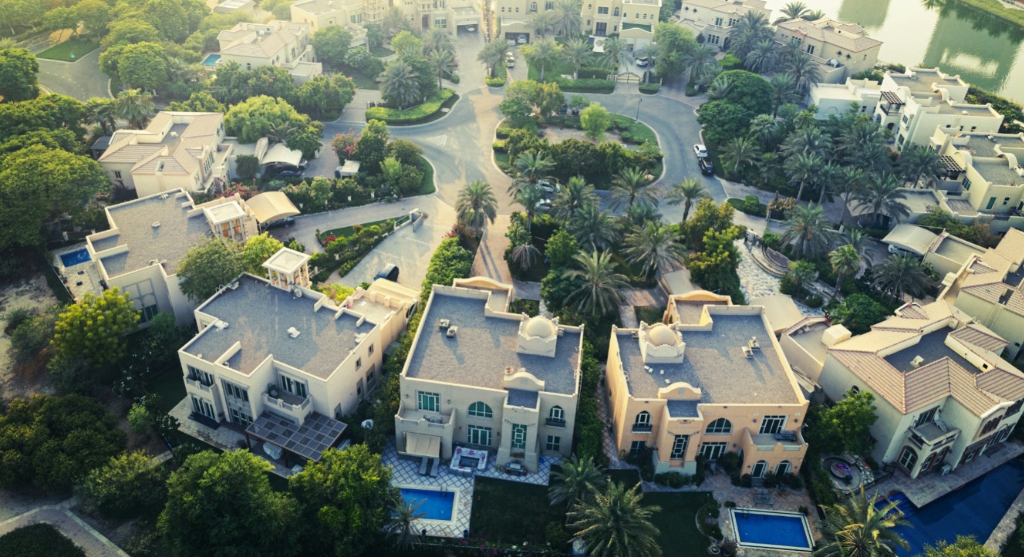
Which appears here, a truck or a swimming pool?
swimming pool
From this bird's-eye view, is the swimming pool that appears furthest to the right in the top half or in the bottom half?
bottom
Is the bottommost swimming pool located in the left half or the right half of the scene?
right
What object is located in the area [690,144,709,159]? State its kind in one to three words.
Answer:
car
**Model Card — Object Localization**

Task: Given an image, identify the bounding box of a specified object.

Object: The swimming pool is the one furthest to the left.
[59,245,94,268]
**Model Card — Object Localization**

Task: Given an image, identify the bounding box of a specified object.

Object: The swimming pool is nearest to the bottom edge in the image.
[725,506,820,556]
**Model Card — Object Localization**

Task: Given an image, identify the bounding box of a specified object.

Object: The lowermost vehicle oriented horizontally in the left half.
[369,262,405,283]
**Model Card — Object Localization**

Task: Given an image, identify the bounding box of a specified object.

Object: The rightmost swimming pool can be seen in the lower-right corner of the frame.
[847,451,1024,557]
